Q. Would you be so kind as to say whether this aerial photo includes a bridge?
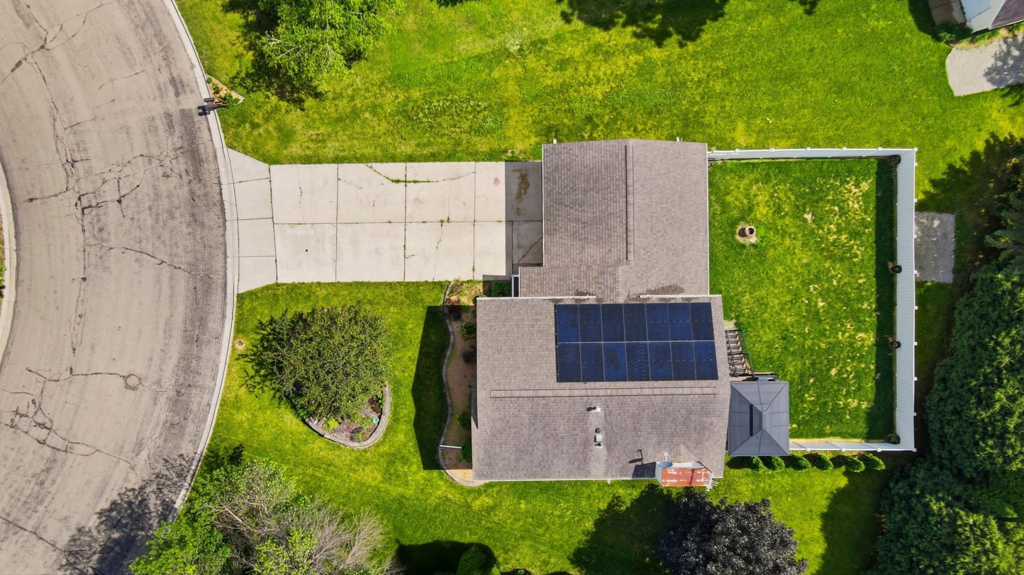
No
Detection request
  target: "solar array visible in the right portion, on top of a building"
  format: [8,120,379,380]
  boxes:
[552,302,720,382]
